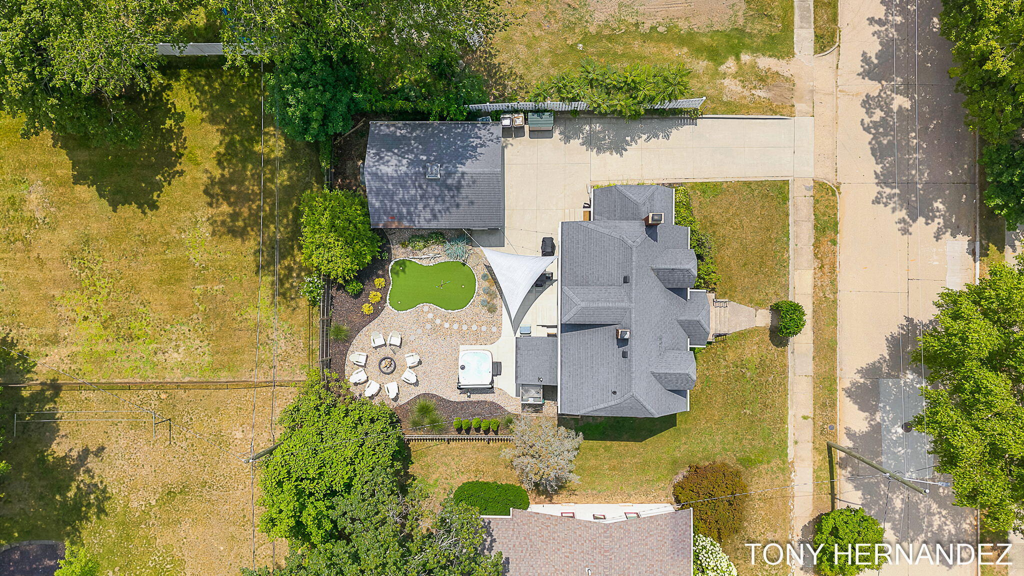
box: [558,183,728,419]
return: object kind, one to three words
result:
house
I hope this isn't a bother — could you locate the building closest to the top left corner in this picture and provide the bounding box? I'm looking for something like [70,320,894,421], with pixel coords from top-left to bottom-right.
[364,121,503,230]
